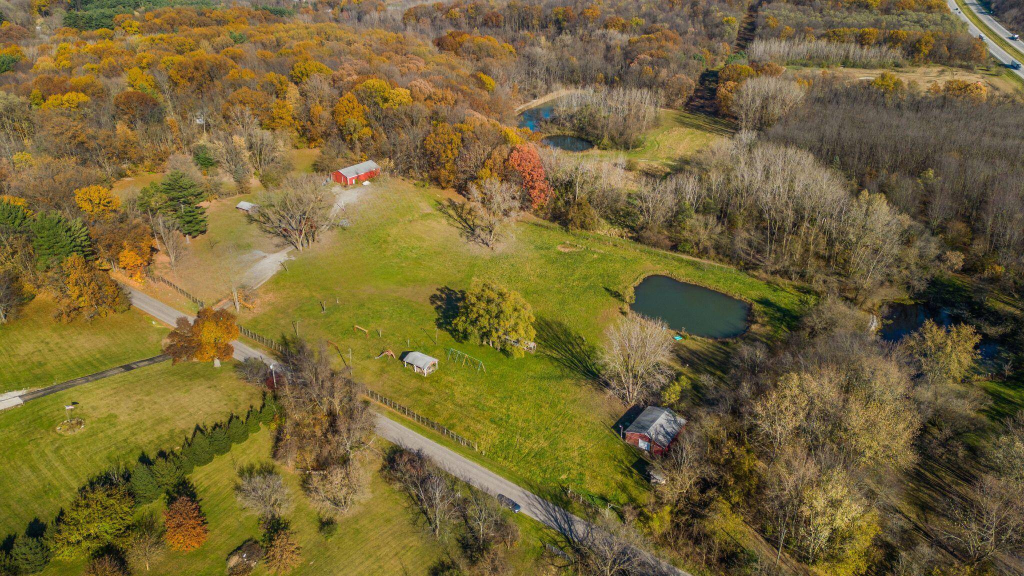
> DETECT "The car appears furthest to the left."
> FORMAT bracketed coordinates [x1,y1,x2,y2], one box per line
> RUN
[499,491,521,509]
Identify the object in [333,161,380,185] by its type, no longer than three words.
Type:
barn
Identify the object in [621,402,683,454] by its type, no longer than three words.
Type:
shed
